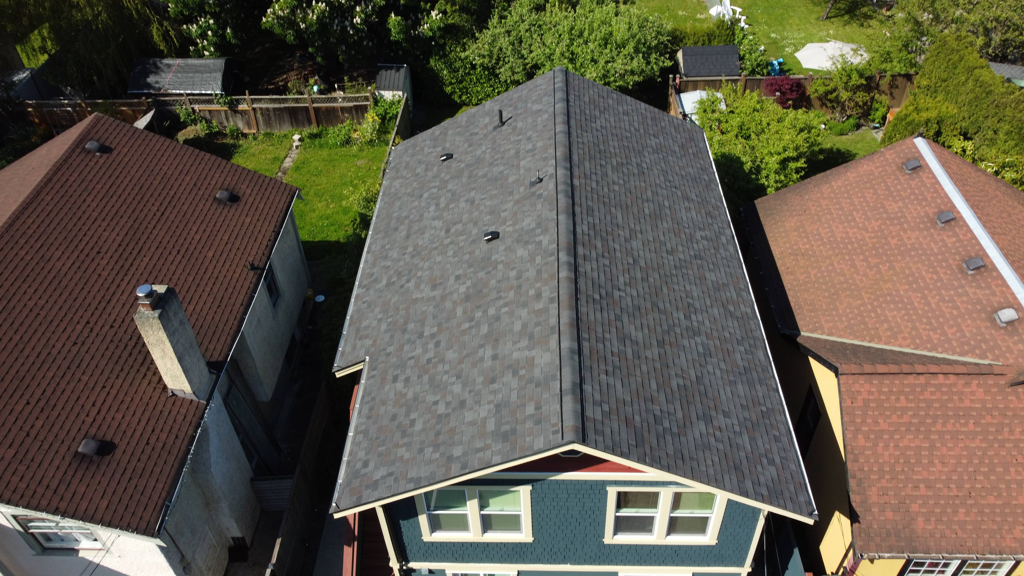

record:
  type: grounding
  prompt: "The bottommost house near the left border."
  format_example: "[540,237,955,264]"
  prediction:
[0,112,311,576]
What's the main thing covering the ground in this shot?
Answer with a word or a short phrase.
buildings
